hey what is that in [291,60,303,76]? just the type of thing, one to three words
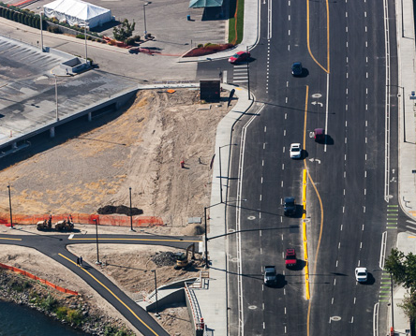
vehicle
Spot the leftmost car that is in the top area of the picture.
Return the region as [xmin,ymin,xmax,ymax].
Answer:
[228,52,250,64]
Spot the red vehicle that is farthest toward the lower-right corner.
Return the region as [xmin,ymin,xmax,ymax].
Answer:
[283,249,297,266]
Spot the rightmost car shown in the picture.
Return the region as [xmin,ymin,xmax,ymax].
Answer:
[355,270,368,282]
